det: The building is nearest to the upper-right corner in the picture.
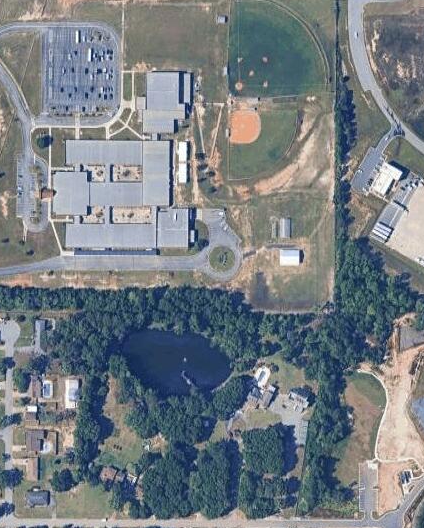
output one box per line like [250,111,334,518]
[369,162,403,196]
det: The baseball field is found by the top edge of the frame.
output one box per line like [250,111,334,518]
[226,0,329,103]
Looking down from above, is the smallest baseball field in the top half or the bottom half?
top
